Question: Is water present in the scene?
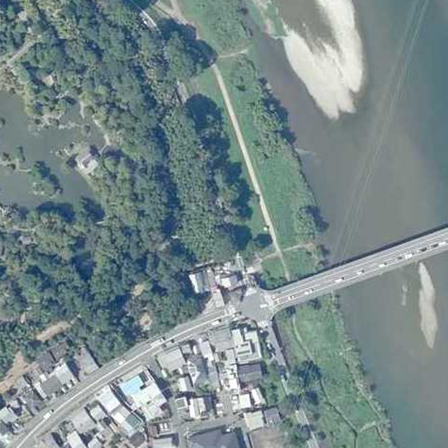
Yes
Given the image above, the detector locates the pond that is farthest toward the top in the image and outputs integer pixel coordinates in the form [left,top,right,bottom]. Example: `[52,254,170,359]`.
[0,92,106,208]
